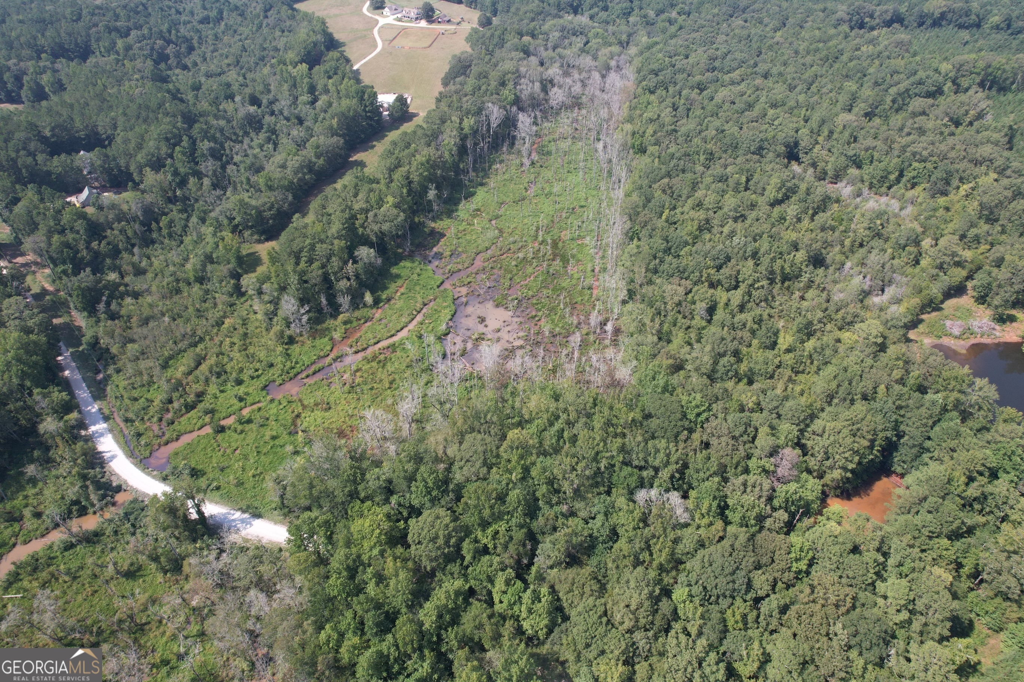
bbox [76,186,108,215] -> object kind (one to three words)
house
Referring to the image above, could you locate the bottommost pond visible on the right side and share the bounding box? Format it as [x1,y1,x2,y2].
[814,453,905,522]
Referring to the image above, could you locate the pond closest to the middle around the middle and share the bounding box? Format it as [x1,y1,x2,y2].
[437,294,529,372]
